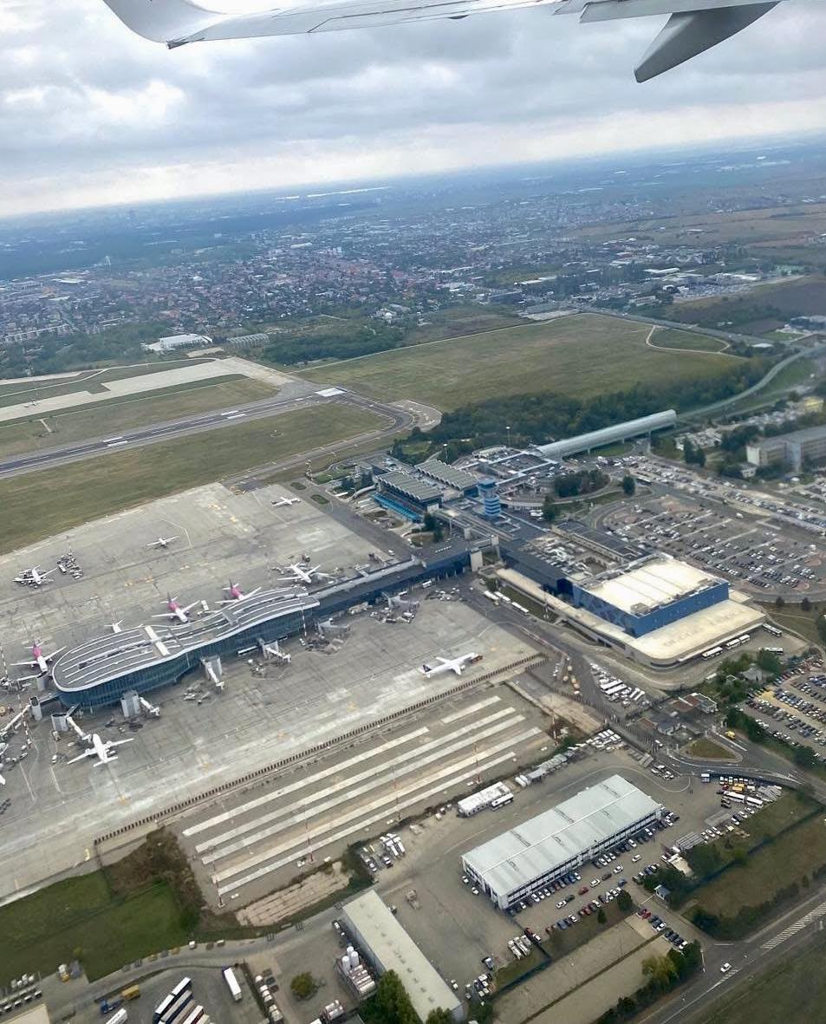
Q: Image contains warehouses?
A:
Yes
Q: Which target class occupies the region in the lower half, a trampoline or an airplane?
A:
airplane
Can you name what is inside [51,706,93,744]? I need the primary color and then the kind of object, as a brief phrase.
gray jet bridge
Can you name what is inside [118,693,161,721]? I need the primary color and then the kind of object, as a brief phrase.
gray jet bridge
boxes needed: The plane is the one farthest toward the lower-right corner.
[419,647,479,680]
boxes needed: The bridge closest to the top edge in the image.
[678,344,826,424]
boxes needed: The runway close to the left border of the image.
[0,399,285,474]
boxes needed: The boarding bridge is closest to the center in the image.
[382,594,419,610]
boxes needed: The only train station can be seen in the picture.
[532,417,683,468]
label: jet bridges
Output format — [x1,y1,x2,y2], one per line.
[118,693,161,721]
[382,594,419,610]
[312,618,349,639]
[16,673,57,694]
[263,637,292,664]
[51,706,93,744]
[206,658,226,692]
